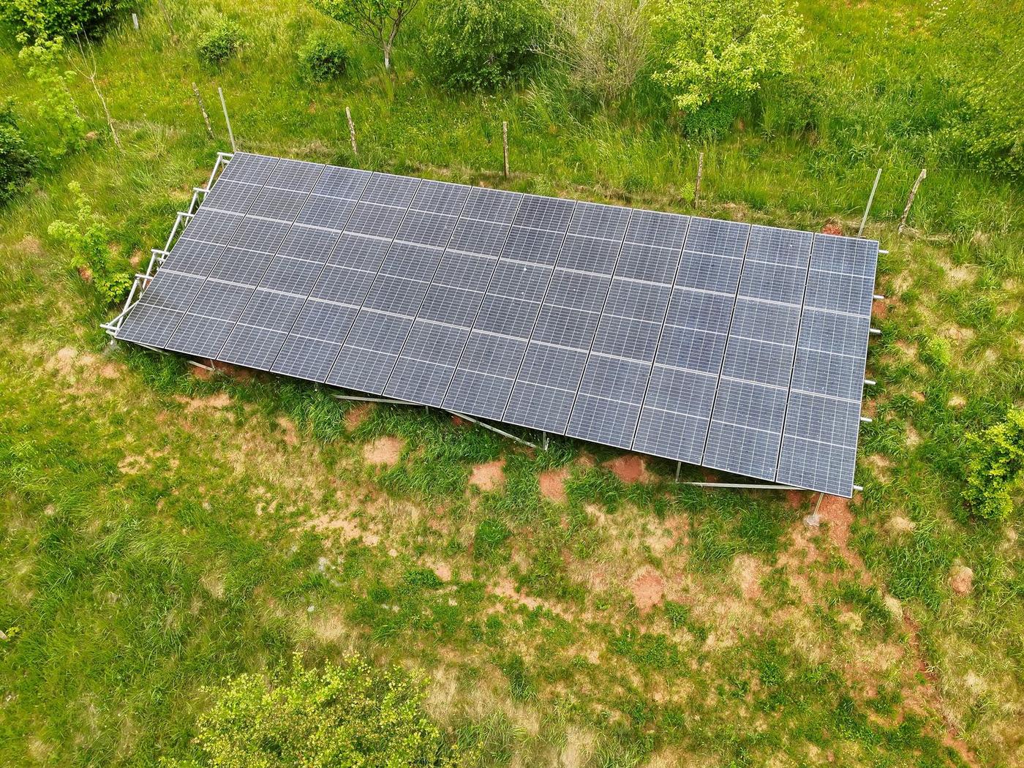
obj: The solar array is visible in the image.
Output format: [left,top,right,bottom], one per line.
[105,152,887,523]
